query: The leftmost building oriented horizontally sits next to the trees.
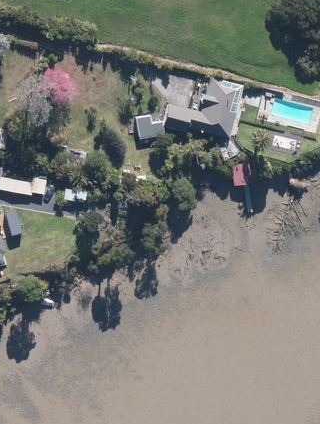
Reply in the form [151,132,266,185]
[0,177,32,195]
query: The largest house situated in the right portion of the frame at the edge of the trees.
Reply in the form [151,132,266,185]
[164,78,244,138]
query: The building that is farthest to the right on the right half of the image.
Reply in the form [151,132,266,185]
[233,164,252,186]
